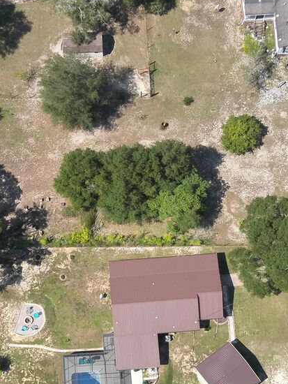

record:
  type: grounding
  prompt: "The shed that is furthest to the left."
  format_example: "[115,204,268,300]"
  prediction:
[61,32,103,58]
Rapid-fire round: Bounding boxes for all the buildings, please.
[242,0,288,57]
[61,32,103,58]
[194,341,262,384]
[108,253,224,370]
